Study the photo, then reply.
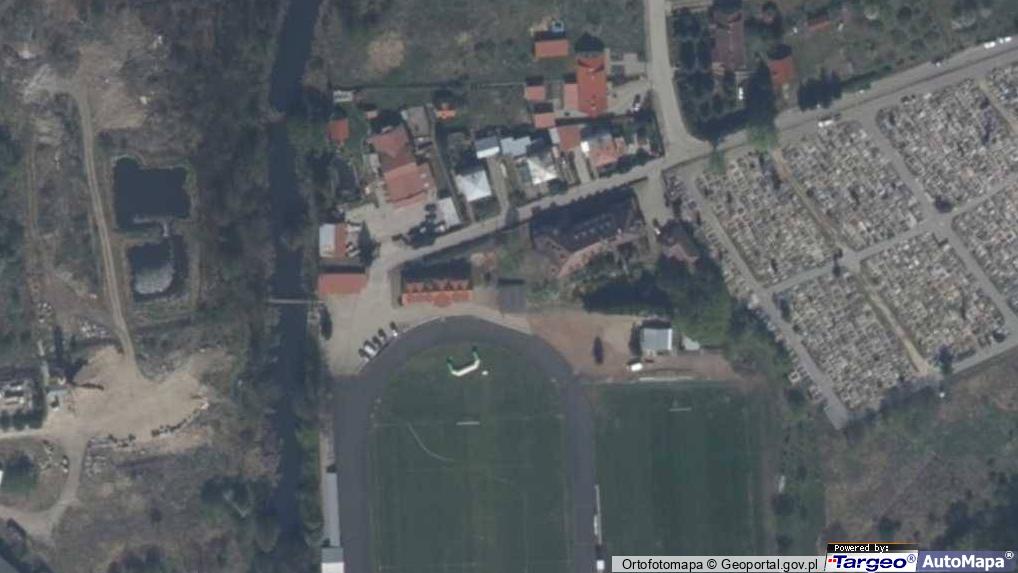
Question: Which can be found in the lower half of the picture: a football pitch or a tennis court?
football pitch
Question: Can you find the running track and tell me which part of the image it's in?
bottom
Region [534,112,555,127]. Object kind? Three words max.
building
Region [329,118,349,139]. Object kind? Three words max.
shed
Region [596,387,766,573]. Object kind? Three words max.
soccer field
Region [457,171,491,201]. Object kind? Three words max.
house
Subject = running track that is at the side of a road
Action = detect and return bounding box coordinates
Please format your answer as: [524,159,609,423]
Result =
[333,316,598,573]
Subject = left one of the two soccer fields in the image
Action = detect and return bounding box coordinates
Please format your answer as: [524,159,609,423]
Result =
[369,345,570,573]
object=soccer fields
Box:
[369,345,570,573]
[596,387,766,573]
